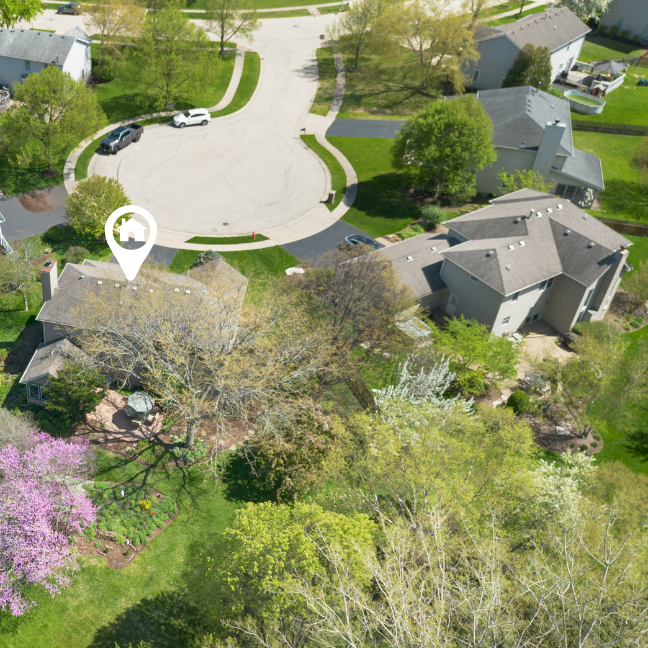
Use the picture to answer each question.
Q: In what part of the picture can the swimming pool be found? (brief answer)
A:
top right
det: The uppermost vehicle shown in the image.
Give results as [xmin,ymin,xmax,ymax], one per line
[55,1,84,15]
